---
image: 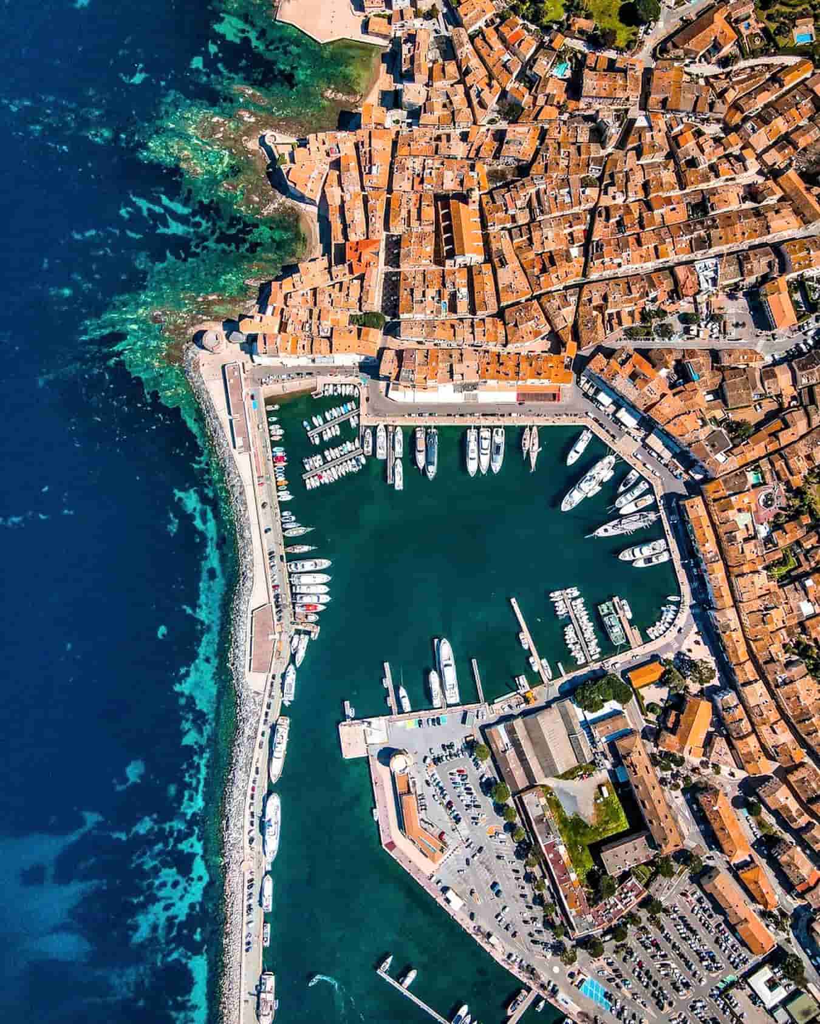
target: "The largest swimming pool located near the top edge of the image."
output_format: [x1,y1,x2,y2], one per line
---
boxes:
[794,31,817,45]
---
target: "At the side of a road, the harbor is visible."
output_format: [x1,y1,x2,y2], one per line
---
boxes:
[255,375,691,1024]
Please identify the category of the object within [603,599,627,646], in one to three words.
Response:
ship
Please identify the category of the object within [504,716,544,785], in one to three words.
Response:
building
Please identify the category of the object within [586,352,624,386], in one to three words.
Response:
house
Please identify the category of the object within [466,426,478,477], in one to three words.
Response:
boat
